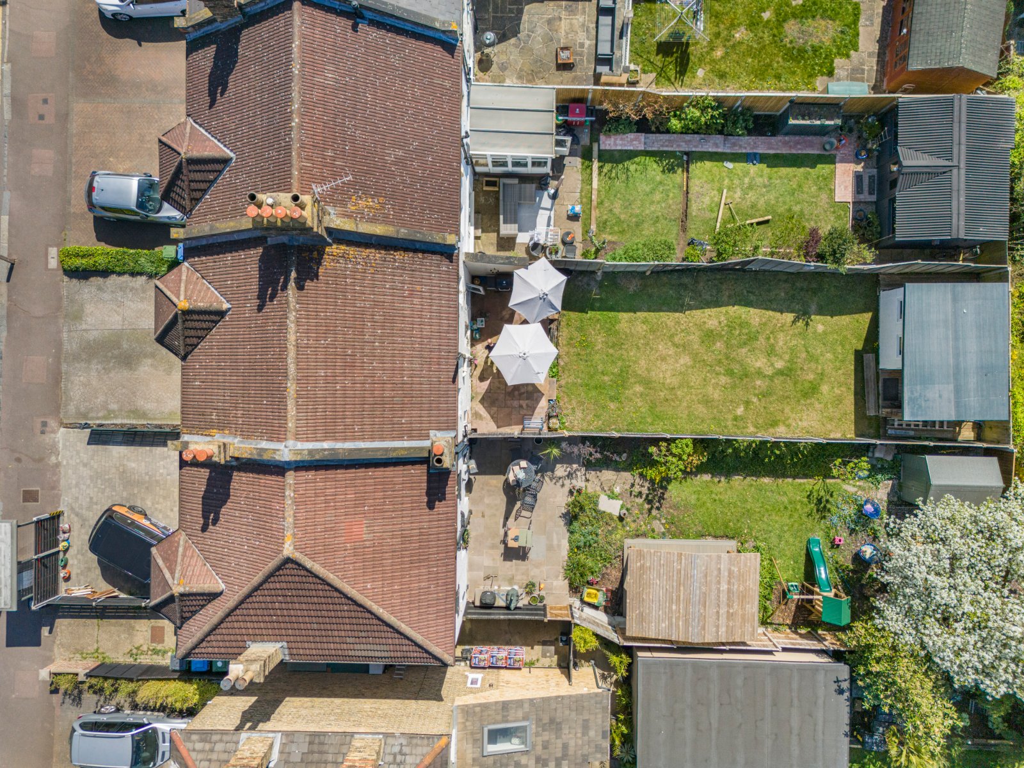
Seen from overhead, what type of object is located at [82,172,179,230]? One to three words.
car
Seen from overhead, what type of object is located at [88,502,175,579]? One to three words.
car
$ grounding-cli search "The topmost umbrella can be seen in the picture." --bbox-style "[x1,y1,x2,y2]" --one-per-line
[509,258,567,322]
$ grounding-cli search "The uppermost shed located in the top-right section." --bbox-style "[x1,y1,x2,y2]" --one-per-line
[885,0,1001,93]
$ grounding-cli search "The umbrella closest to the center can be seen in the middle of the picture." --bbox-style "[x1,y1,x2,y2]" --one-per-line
[490,324,558,385]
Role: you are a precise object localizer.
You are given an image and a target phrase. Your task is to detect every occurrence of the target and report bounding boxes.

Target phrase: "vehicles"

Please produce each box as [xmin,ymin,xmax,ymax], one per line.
[82,172,179,230]
[90,0,182,22]
[75,704,192,768]
[88,502,175,579]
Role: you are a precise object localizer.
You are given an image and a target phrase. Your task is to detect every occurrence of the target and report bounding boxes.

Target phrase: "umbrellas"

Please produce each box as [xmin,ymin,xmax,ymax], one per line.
[490,324,558,385]
[509,258,567,322]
